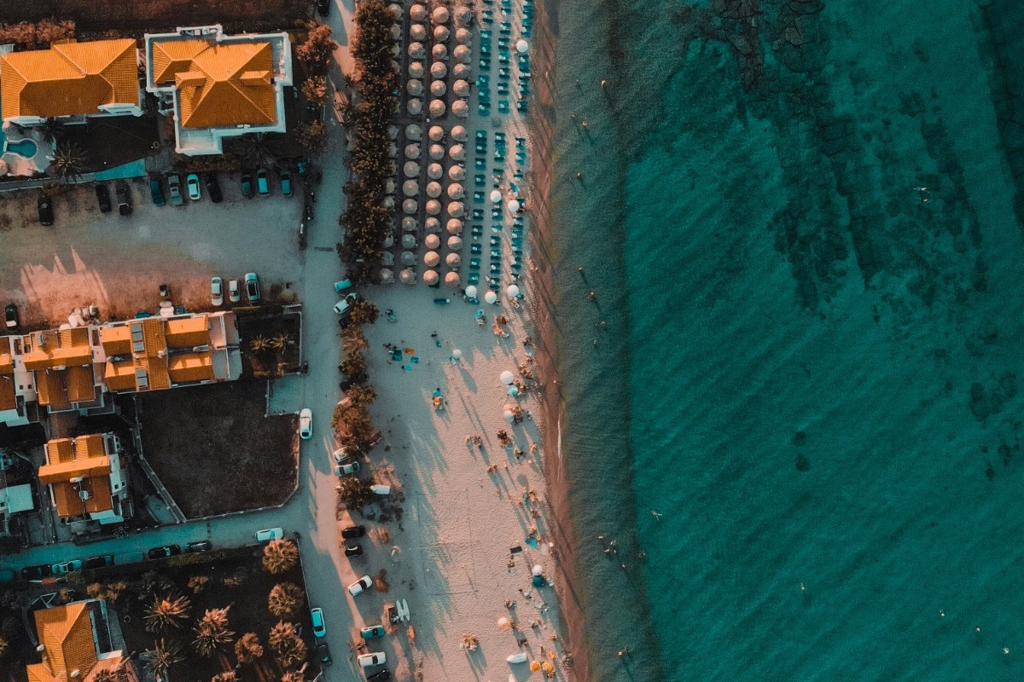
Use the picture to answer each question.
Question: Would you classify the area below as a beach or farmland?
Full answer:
This image shows a beach.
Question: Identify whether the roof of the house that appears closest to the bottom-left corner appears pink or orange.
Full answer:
From above, the roof of the house that appears closest to the bottom-left corner appears orange.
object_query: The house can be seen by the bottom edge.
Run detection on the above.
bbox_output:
[26,596,133,682]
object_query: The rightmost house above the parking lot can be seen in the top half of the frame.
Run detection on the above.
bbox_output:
[144,22,300,162]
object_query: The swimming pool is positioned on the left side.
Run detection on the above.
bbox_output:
[3,138,38,157]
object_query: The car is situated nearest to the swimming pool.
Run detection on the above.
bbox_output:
[38,194,55,224]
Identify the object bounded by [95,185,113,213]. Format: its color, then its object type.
black car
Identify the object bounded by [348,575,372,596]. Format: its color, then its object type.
white car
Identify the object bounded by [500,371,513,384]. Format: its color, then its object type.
white umbrella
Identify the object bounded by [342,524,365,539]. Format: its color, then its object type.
black car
